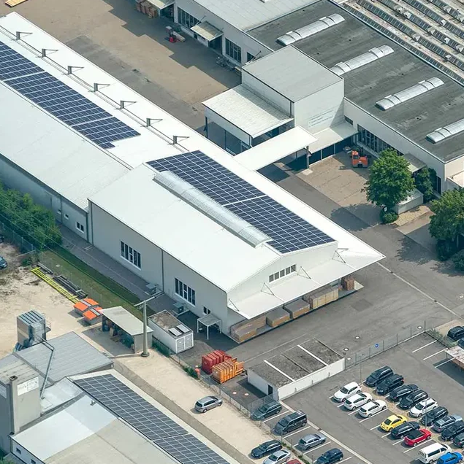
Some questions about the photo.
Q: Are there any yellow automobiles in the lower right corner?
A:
Yes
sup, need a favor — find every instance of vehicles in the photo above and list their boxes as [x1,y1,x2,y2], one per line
[431,414,463,433]
[388,383,418,402]
[417,441,451,464]
[445,324,464,341]
[451,430,464,448]
[274,408,308,434]
[0,254,8,269]
[261,447,293,464]
[374,372,406,393]
[357,400,386,418]
[295,433,327,451]
[332,381,361,400]
[434,451,464,464]
[251,400,283,421]
[364,364,394,385]
[251,438,283,459]
[193,394,225,414]
[398,388,430,408]
[342,393,372,410]
[342,143,372,166]
[440,420,464,439]
[165,23,178,43]
[402,429,432,447]
[378,414,408,432]
[417,405,450,426]
[315,445,345,464]
[389,420,421,440]
[408,396,439,417]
